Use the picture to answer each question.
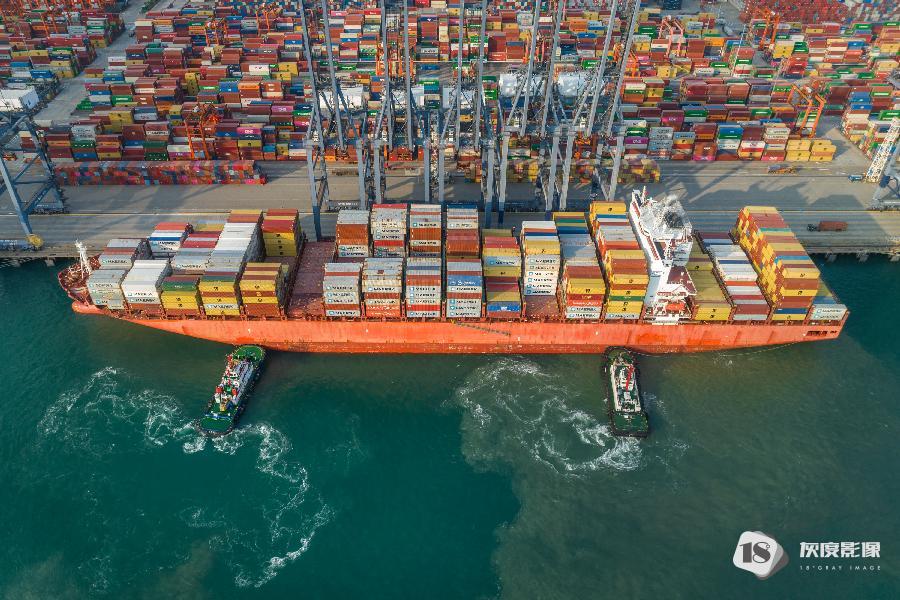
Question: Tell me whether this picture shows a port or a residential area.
port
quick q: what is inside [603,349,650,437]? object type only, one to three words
boat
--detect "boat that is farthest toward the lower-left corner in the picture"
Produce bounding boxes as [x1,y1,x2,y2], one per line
[198,348,266,435]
